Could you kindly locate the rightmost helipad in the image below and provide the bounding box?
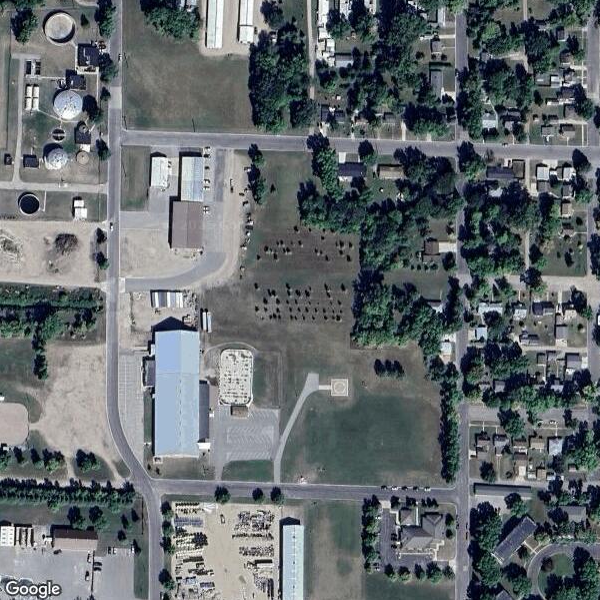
[331,379,349,397]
